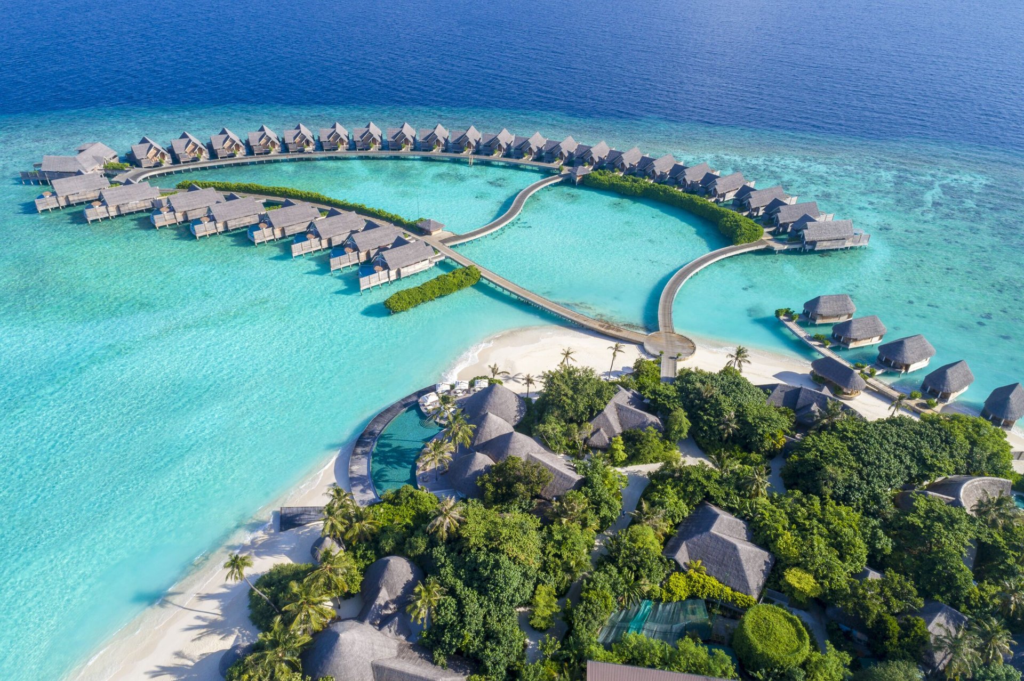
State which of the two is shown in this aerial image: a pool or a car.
pool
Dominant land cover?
water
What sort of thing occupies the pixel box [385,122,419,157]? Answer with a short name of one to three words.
house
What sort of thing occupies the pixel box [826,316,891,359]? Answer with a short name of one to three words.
shed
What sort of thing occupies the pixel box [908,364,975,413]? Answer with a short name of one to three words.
shed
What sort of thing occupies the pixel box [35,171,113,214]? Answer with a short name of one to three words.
house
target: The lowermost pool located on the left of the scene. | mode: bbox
[370,400,444,506]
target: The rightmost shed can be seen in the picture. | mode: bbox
[967,384,1024,433]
